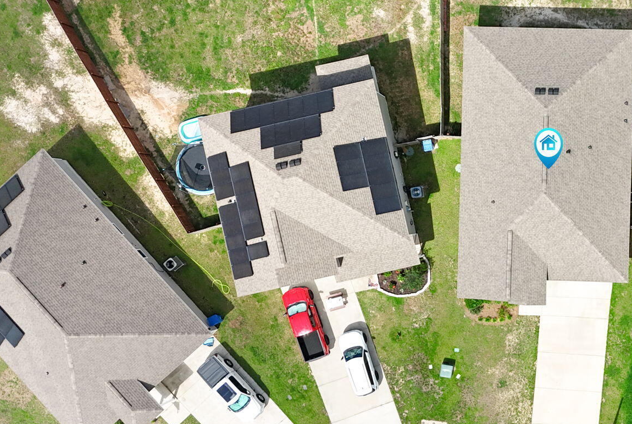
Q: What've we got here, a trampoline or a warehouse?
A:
trampoline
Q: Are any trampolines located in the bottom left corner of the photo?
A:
No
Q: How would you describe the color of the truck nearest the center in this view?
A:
red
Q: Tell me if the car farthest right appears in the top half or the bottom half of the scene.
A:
bottom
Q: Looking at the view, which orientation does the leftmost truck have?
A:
diagonally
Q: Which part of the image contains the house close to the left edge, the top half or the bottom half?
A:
bottom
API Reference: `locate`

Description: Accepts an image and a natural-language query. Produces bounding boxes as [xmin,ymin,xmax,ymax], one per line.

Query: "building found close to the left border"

[0,149,221,424]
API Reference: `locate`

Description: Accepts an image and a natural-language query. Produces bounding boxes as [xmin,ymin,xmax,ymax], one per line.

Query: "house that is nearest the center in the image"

[198,55,423,297]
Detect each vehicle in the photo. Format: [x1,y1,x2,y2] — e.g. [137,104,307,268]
[341,327,379,395]
[197,349,269,423]
[286,282,331,361]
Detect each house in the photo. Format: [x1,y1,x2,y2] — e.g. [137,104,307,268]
[457,25,632,306]
[0,149,221,424]
[198,55,423,297]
